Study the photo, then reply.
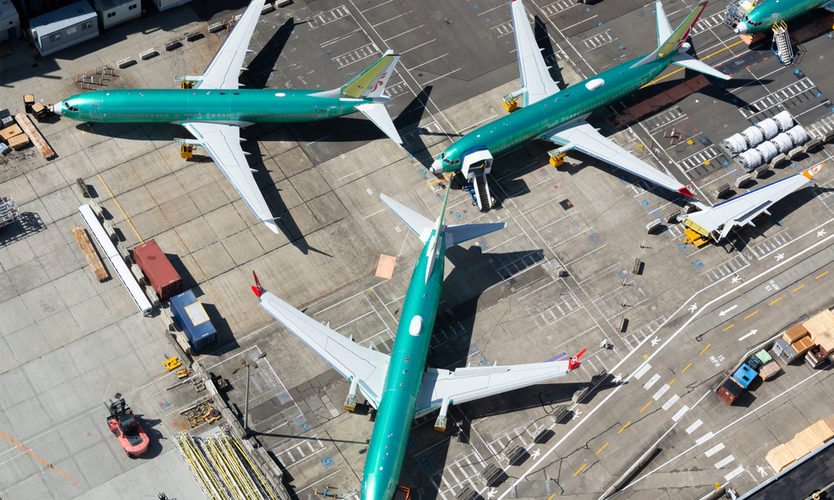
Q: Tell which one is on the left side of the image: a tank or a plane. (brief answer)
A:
plane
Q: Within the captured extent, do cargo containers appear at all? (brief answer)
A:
Yes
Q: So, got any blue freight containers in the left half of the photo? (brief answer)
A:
Yes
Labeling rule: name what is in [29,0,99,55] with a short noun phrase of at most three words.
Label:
trailer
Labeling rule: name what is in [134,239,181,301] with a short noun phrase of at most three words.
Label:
shipping container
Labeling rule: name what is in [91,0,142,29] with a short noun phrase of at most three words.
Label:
trailer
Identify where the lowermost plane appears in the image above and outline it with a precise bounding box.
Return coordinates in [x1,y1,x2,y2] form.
[252,174,587,500]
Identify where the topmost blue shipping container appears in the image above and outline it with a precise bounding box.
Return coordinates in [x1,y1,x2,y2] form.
[169,290,217,353]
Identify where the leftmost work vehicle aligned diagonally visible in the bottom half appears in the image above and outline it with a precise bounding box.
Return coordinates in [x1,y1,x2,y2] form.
[103,398,149,451]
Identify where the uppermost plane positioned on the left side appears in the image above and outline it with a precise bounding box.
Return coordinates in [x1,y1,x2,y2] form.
[55,0,405,234]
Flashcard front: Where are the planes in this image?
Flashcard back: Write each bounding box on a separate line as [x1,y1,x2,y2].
[736,0,834,38]
[430,0,734,197]
[252,174,587,500]
[55,0,405,234]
